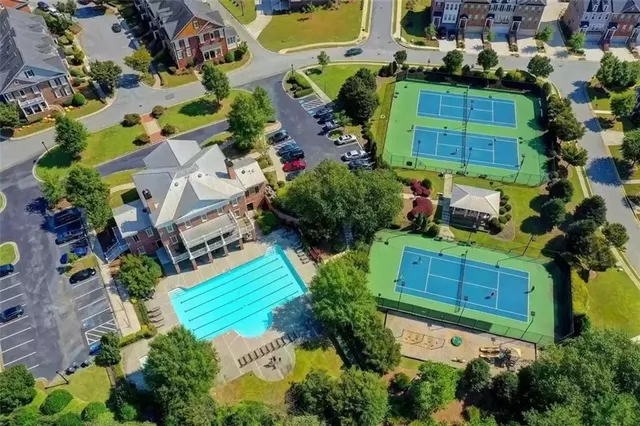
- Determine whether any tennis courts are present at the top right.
Yes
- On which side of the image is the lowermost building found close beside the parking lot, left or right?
left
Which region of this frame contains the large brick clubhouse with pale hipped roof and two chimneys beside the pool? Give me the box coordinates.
[112,138,271,267]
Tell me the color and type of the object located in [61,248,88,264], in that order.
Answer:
blue car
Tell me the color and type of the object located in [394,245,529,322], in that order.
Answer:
blue tennis court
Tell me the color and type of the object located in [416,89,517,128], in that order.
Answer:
blue tennis court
